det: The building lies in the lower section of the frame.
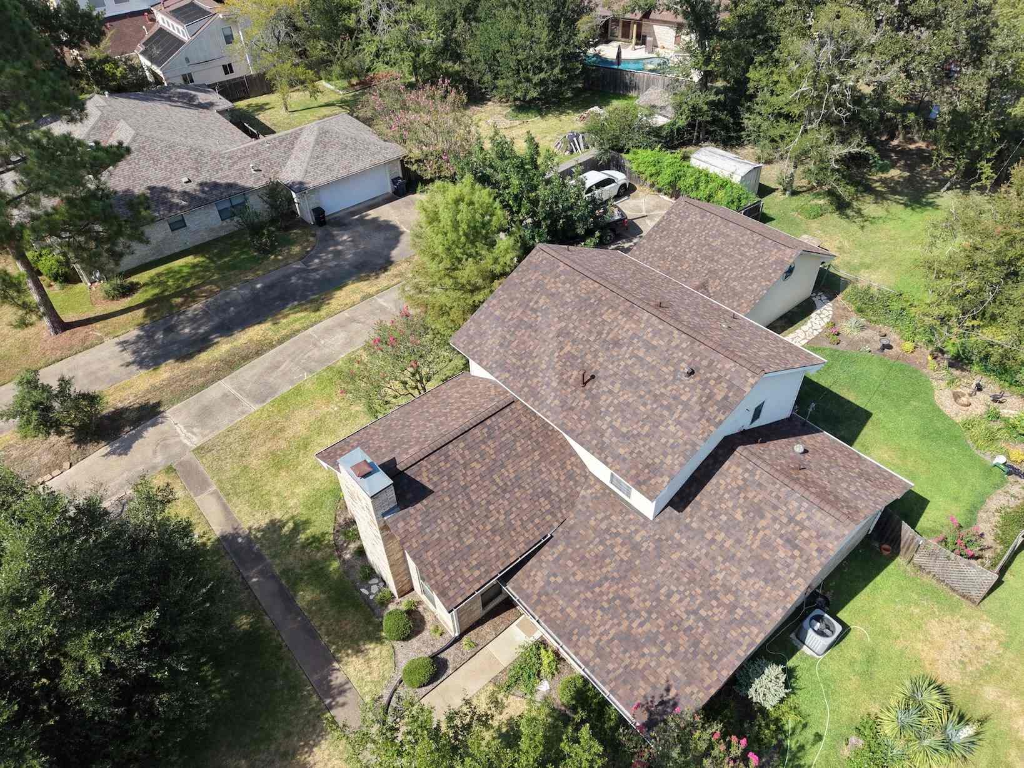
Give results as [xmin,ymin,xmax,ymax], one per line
[314,242,914,748]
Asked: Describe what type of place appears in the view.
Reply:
residential area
